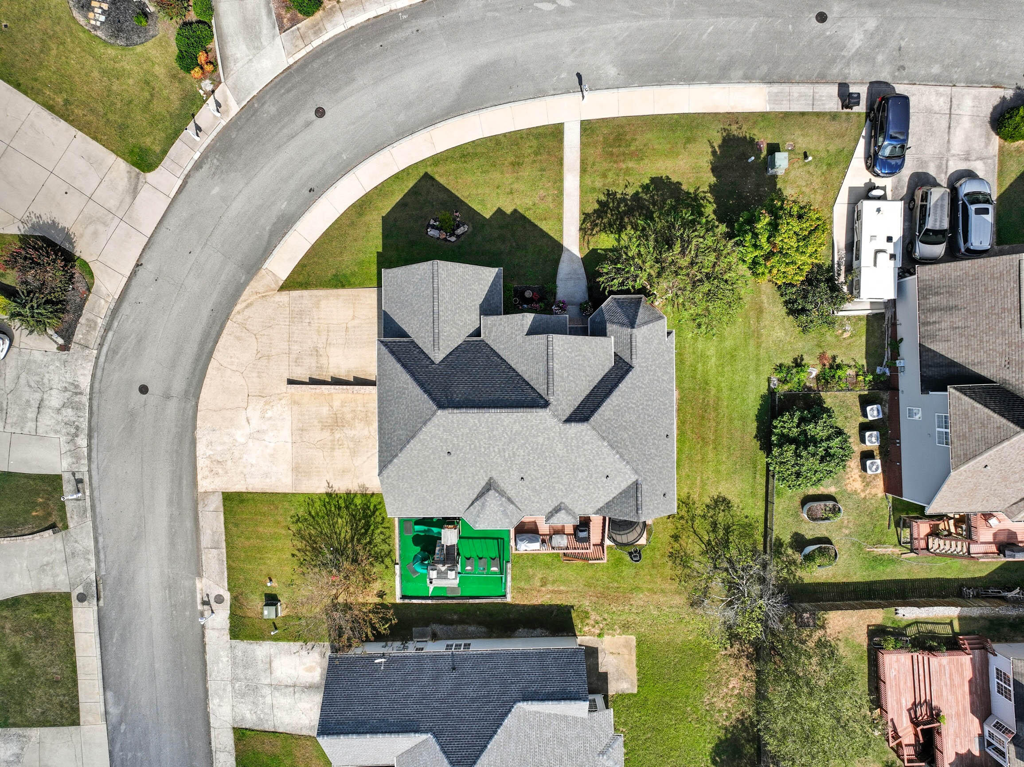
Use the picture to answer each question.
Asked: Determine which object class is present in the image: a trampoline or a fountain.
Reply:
trampoline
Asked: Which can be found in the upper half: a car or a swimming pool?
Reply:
car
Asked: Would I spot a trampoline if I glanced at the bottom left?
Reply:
No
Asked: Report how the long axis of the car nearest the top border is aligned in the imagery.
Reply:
from top to bottom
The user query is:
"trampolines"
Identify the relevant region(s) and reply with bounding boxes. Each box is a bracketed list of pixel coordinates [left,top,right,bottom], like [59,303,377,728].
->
[608,518,653,564]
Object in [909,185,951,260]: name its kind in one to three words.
car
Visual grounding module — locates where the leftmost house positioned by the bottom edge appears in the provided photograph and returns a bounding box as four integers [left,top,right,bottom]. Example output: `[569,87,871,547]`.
[313,638,625,767]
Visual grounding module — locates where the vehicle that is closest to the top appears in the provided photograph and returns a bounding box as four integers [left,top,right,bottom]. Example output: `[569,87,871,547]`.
[872,93,914,175]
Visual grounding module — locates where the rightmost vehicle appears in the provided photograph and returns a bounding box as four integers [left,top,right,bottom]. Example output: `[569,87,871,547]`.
[952,180,993,254]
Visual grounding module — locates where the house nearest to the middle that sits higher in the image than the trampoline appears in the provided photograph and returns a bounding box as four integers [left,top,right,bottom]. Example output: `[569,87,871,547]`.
[375,258,676,531]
